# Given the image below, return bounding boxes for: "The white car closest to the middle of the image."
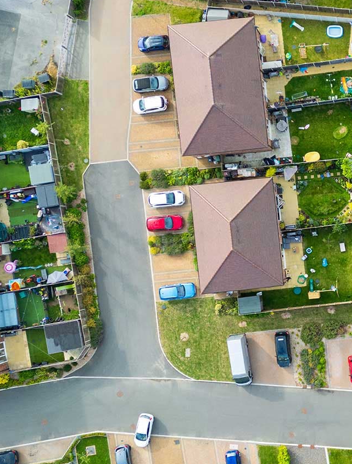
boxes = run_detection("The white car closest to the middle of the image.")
[147,188,186,208]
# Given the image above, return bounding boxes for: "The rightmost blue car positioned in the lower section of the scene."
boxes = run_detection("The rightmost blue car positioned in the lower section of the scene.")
[274,330,292,367]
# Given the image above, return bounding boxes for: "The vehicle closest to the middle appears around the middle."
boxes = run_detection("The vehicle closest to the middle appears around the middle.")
[146,213,184,231]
